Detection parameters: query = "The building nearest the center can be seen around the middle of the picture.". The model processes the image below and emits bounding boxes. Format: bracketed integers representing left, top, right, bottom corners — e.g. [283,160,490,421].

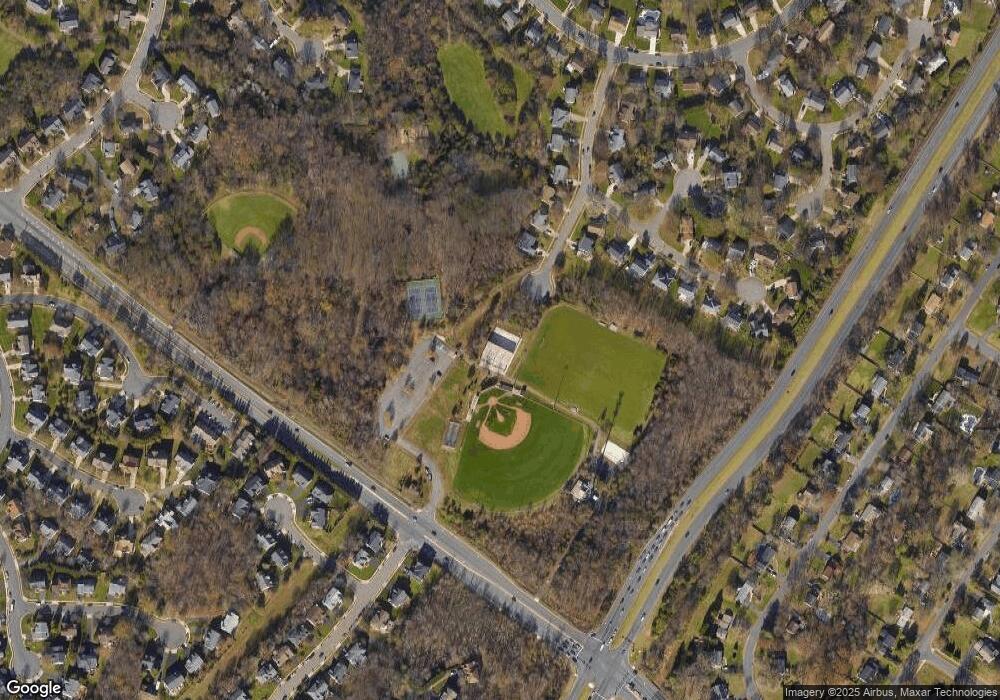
[480,329,520,379]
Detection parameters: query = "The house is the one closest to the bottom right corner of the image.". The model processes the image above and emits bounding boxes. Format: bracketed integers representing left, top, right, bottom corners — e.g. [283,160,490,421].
[976,637,999,663]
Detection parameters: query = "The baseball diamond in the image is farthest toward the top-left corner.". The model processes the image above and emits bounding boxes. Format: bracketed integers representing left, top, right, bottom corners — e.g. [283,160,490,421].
[209,192,296,257]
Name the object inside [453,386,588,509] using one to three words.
baseball field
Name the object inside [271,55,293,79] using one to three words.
house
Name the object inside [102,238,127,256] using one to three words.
house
